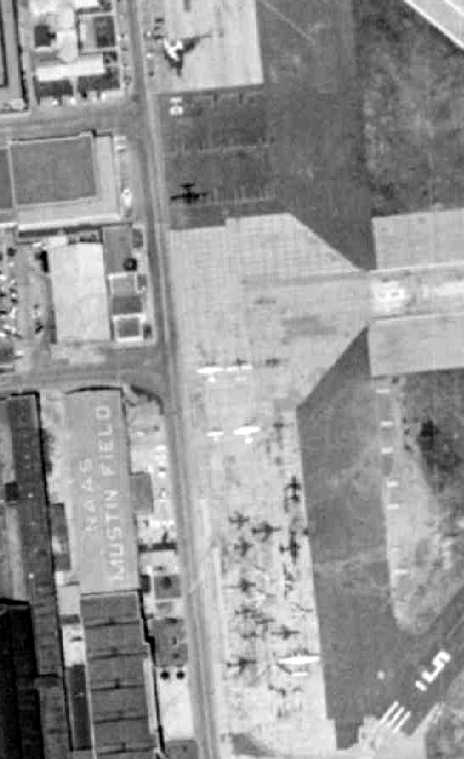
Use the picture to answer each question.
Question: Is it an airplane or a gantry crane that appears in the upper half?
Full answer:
What appears in the upper half is an airplane.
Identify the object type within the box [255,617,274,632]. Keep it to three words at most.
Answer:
airplane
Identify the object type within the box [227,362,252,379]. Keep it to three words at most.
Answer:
airplane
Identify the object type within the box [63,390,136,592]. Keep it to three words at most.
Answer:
hangar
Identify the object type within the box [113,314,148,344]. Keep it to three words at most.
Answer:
building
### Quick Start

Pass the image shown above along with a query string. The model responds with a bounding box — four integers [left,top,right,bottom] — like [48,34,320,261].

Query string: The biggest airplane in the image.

[278,651,319,677]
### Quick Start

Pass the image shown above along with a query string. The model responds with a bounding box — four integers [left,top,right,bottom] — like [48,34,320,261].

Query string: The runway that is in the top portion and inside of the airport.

[334,208,464,376]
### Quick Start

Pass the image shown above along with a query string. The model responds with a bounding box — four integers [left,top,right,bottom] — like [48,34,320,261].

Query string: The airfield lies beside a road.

[147,0,464,759]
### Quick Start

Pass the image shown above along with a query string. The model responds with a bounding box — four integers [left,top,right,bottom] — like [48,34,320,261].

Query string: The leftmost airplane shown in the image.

[170,179,206,202]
